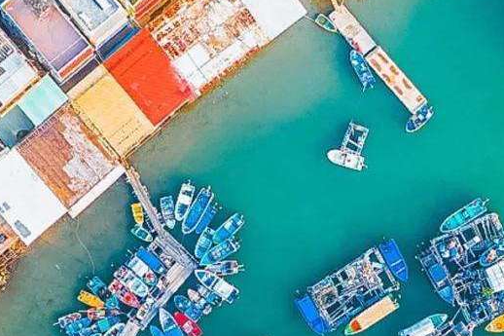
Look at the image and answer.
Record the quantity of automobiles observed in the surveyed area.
none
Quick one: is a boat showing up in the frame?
Yes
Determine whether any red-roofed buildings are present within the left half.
Yes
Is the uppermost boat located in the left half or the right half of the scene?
right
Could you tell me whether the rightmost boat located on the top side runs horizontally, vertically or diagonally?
diagonally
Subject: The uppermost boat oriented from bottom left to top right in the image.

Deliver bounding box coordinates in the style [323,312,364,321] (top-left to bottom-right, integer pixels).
[404,104,437,130]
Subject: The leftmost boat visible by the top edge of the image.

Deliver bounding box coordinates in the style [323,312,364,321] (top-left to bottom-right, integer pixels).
[313,14,343,35]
